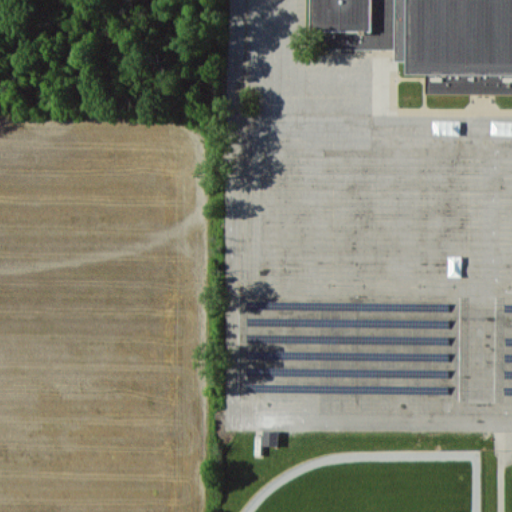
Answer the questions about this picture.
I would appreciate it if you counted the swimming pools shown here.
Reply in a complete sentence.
There are no swimming pools in the image.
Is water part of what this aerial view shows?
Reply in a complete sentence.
No, water can't be seen anywhere here.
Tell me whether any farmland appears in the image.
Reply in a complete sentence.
Yes, farmland shows up in the scene.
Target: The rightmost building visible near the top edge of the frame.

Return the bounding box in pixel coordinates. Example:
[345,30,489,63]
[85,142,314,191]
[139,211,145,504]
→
[394,0,512,96]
